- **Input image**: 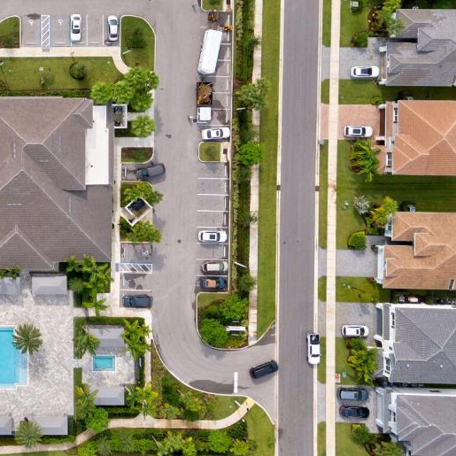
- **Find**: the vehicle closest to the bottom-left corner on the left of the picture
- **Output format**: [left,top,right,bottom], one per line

[122,294,151,307]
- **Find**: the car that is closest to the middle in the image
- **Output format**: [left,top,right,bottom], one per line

[197,230,228,243]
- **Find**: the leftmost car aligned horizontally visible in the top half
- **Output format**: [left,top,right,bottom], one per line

[136,163,167,180]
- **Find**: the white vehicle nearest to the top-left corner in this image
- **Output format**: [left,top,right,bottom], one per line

[69,13,83,43]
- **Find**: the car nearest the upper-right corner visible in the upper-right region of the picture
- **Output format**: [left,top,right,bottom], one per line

[348,66,379,79]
